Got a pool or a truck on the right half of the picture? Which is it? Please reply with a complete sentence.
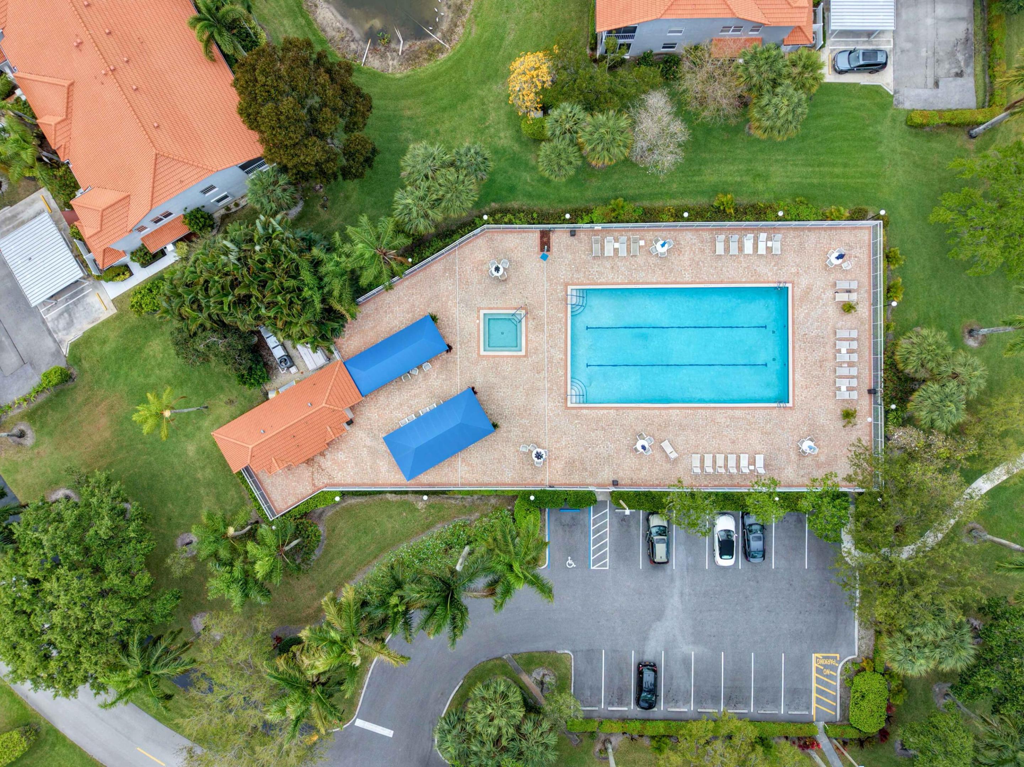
There is a pool on the right half of the picture.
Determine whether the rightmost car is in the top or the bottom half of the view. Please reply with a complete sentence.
It is in the top half that the rightmost car appears.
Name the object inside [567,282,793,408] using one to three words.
swimming pool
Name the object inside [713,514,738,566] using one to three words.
car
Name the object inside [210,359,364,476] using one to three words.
building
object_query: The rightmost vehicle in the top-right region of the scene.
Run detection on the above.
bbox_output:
[832,47,888,76]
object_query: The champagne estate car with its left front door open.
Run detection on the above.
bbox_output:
[639,514,672,566]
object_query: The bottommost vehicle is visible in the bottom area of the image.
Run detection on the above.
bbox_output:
[636,662,659,710]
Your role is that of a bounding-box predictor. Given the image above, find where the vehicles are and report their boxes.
[713,514,738,566]
[639,514,672,566]
[636,662,659,710]
[742,513,768,564]
[832,47,888,76]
